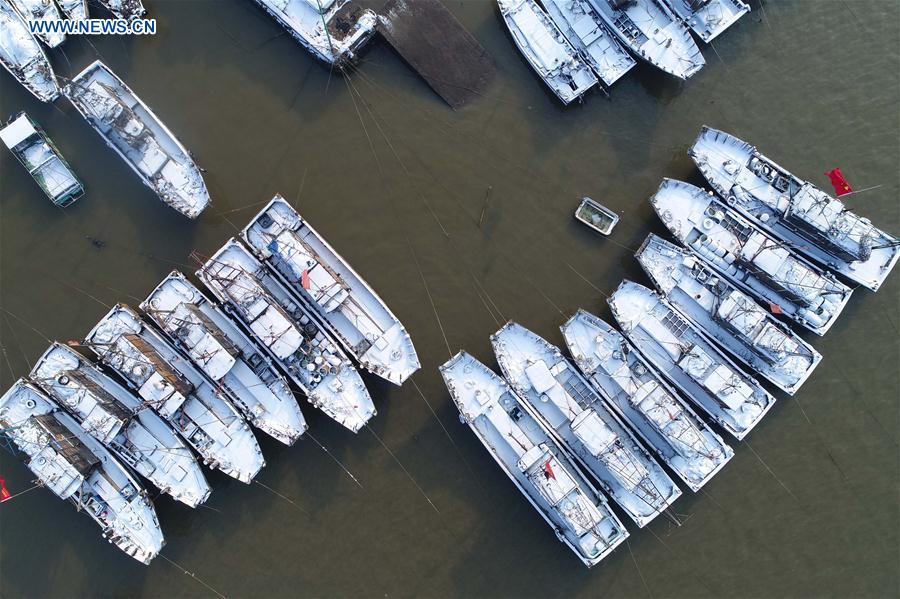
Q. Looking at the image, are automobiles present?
No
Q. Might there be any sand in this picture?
No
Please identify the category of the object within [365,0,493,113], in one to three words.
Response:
pier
